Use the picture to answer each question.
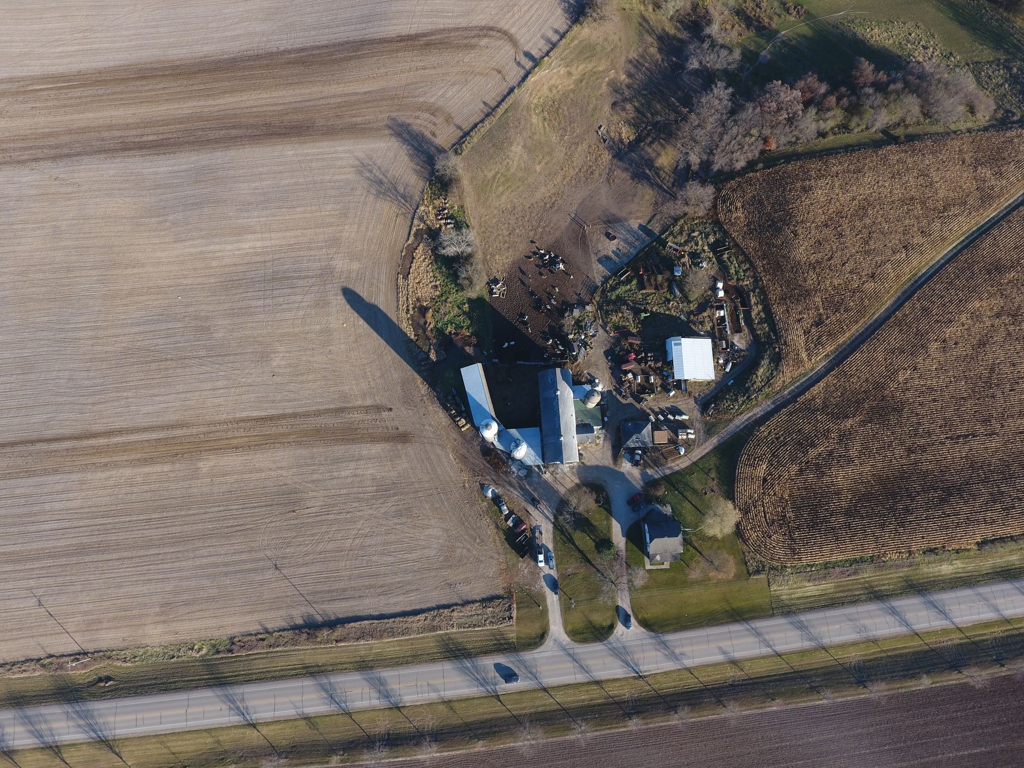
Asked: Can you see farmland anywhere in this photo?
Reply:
Yes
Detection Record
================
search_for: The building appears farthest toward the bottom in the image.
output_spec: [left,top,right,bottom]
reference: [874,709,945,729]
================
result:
[646,510,684,566]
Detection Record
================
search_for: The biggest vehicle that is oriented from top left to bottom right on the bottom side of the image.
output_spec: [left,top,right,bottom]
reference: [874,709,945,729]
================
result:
[496,496,511,516]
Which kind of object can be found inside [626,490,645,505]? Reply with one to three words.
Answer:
vehicle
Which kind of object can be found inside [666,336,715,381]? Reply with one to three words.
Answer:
shed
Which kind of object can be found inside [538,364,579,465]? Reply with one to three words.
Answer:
barn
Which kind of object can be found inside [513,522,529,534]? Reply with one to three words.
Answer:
vehicle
